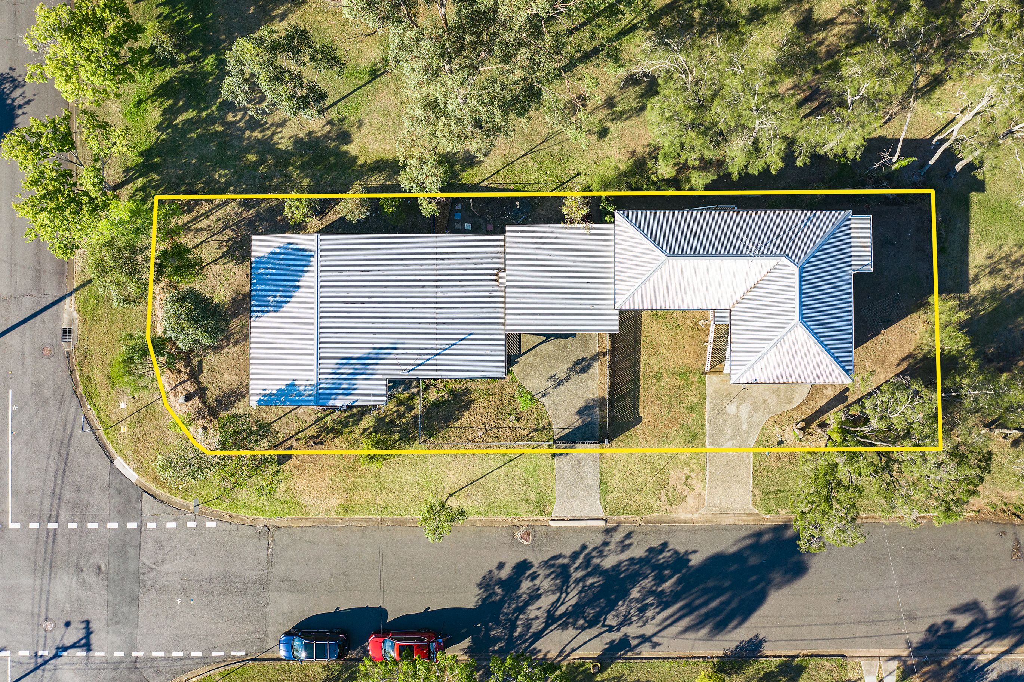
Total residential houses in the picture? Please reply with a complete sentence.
I count 2 residential houses.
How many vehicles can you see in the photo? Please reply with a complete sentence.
There are 2 vehicles in the image.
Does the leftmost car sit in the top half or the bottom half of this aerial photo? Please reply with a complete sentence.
The bottom half of the photo is where the leftmost car is.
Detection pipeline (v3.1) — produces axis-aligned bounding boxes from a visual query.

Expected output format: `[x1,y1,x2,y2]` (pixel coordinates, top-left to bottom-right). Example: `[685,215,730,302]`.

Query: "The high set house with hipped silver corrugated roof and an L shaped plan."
[612,208,876,385]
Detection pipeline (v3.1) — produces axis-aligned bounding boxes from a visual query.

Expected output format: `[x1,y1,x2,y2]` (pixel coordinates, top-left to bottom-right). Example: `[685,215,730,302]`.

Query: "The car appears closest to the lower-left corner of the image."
[280,628,350,665]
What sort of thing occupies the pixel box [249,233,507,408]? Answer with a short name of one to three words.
house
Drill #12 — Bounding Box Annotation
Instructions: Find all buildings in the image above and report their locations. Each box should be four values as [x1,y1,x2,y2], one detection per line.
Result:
[612,208,876,385]
[249,233,507,408]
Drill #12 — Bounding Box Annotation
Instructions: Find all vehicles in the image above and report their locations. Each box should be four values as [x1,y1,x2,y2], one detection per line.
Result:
[280,628,350,665]
[368,629,441,665]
